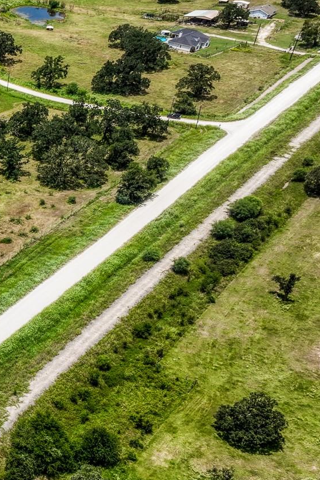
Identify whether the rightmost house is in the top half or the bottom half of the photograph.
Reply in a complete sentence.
The top half of the photo is where the rightmost house is.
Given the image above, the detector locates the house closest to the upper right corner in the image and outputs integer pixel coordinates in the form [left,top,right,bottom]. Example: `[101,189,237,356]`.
[246,2,278,24]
